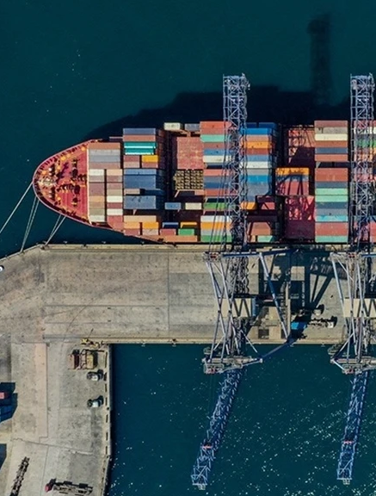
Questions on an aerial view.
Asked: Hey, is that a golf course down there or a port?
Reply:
port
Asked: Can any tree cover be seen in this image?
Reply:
No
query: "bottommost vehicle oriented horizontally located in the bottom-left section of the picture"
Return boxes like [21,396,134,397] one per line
[42,484,87,496]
